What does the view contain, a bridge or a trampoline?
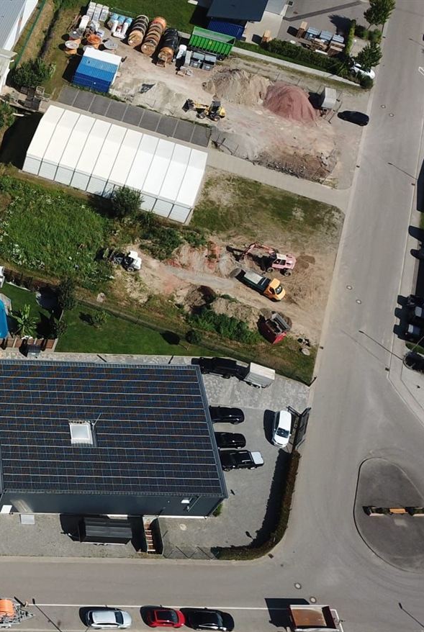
trampoline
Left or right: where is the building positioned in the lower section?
left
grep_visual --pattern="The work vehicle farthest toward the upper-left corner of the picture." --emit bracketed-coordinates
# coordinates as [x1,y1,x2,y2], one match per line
[186,98,223,120]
